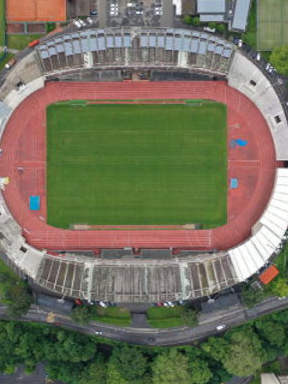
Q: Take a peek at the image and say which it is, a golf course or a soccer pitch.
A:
soccer pitch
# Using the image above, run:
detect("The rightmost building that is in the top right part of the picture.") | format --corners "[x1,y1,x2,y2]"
[232,0,250,32]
